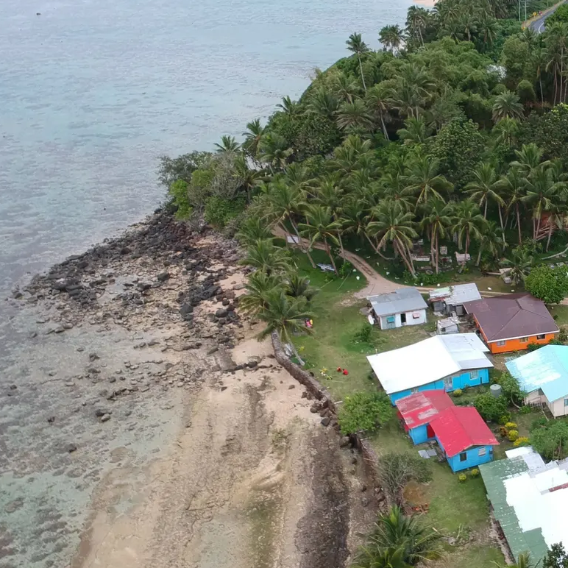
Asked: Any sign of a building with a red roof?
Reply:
Yes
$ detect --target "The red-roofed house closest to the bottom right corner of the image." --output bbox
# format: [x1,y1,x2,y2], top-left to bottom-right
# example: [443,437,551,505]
[394,387,498,473]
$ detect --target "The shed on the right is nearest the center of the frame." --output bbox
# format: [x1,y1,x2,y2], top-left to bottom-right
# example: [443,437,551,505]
[366,282,424,329]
